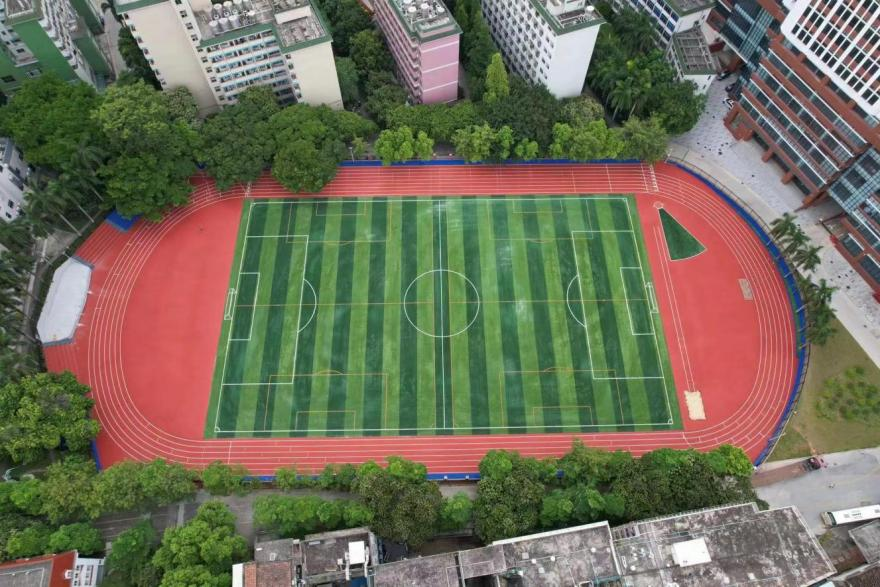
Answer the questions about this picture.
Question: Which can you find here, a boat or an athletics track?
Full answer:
It is an athletics track that can be seen here.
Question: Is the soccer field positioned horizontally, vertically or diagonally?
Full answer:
The soccer field is oriented horizontally.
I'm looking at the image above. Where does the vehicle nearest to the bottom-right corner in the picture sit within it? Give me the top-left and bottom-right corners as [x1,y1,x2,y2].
[818,505,880,527]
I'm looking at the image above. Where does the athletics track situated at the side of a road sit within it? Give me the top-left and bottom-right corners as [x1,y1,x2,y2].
[71,162,797,479]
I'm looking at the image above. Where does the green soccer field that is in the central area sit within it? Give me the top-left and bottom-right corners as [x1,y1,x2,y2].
[203,193,684,437]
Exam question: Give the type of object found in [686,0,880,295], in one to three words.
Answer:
building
